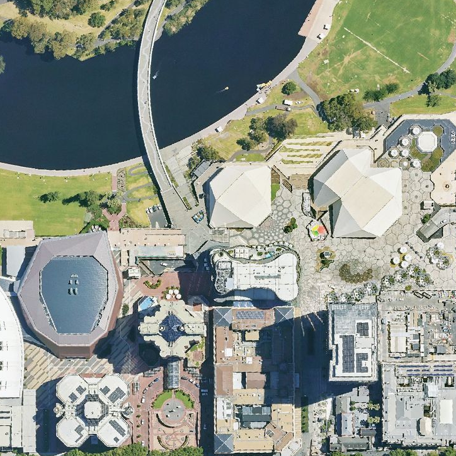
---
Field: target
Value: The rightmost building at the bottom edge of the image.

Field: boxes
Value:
[382,361,456,447]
